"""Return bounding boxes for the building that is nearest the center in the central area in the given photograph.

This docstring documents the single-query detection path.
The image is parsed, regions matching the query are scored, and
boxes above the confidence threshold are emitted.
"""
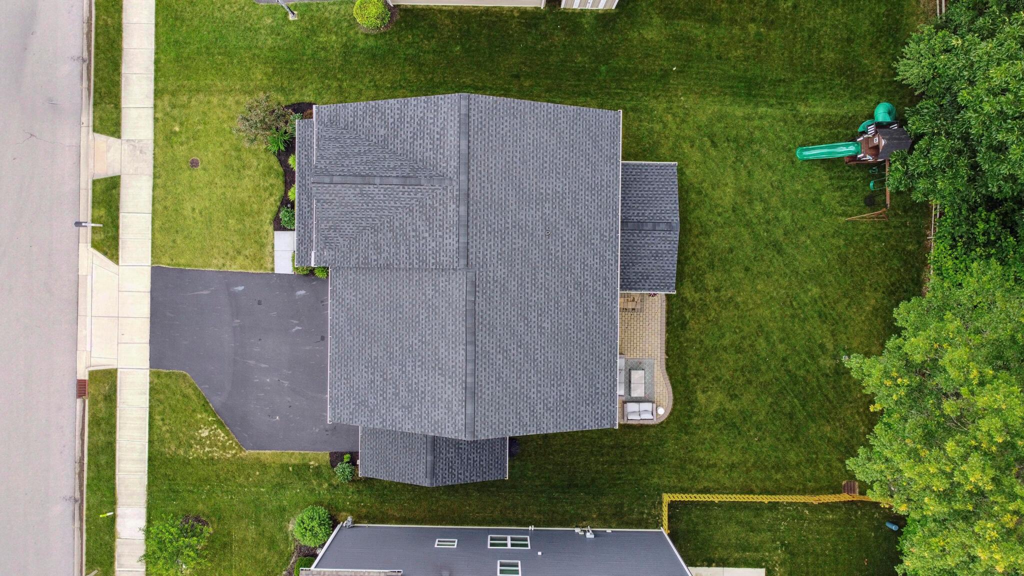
[296,93,679,487]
